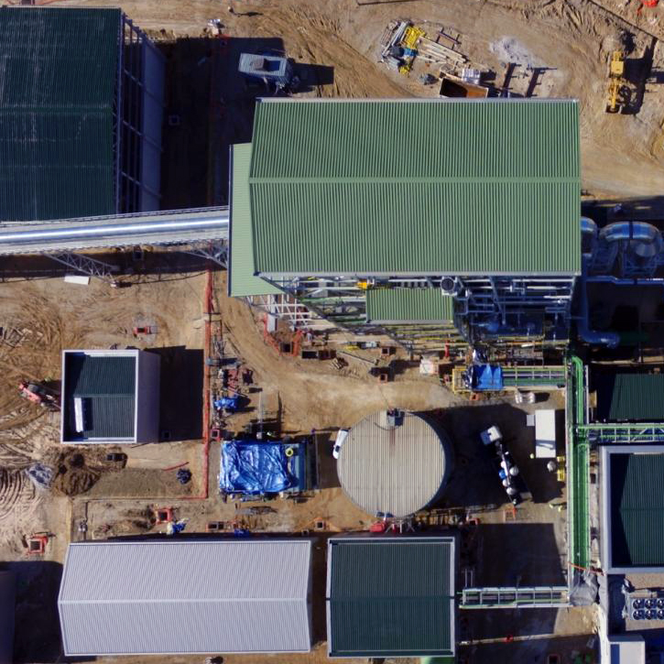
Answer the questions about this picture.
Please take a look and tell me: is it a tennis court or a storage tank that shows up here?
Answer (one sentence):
I can see a storage tank in this picture.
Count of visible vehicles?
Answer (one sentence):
In total, there are 4 vehicles in the scene.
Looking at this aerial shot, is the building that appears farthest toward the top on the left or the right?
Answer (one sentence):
It is on the left.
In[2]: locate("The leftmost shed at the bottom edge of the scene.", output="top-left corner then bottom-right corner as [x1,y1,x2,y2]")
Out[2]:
[60,533,325,657]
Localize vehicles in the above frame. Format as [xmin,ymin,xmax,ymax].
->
[608,55,628,113]
[15,381,59,413]
[327,427,348,458]
[487,430,536,515]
